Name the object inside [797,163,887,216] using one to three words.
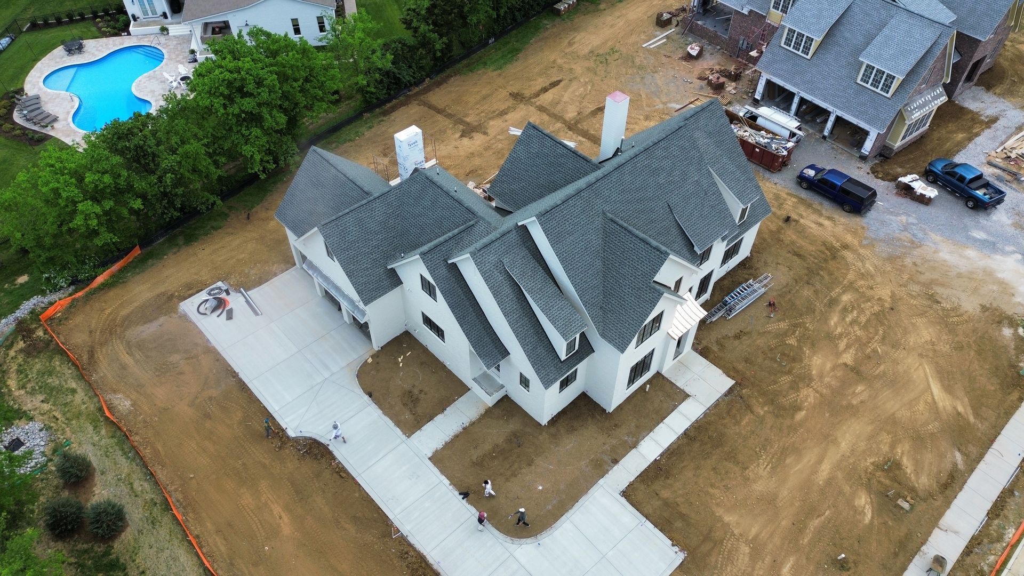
truck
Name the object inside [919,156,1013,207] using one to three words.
truck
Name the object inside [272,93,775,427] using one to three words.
house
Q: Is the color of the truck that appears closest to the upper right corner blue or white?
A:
blue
